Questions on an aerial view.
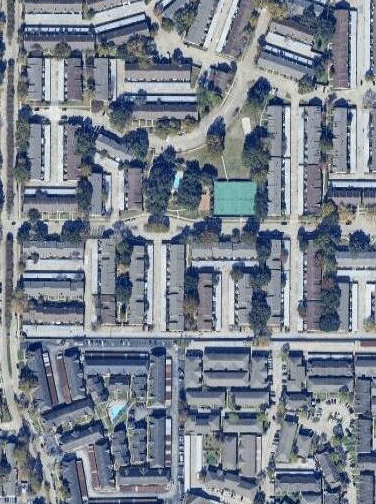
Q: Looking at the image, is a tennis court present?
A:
Yes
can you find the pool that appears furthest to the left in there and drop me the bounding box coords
[104,401,129,422]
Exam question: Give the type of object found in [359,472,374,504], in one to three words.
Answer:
building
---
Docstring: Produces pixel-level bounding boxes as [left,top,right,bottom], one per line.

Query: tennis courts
[213,181,255,216]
